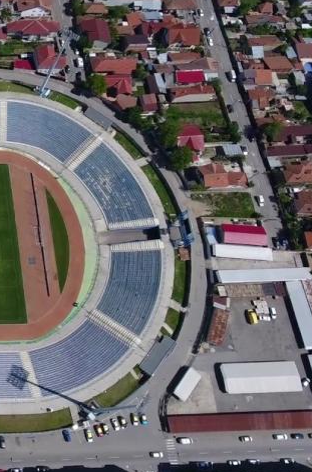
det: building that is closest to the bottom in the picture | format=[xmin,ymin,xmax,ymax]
[164,411,312,433]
